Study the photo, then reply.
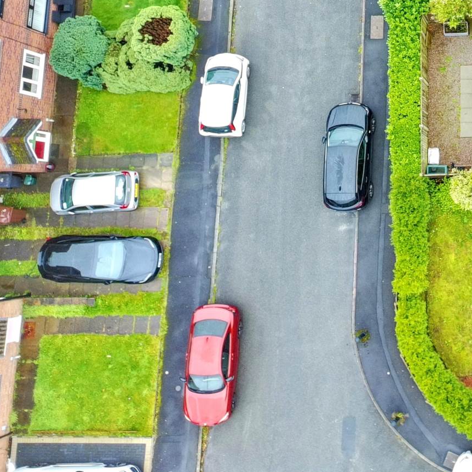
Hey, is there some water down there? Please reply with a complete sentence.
No, there's no water in this view.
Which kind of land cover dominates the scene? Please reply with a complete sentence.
What you mostly see from above here is paved ground.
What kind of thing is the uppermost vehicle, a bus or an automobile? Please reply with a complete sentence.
The uppermost vehicle is an automobile.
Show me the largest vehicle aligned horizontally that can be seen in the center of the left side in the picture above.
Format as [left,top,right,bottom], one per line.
[32,231,163,289]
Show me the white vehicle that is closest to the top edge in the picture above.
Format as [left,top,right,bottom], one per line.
[197,52,249,135]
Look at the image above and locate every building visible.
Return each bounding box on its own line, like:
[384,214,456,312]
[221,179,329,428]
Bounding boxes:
[0,300,25,472]
[0,0,65,171]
